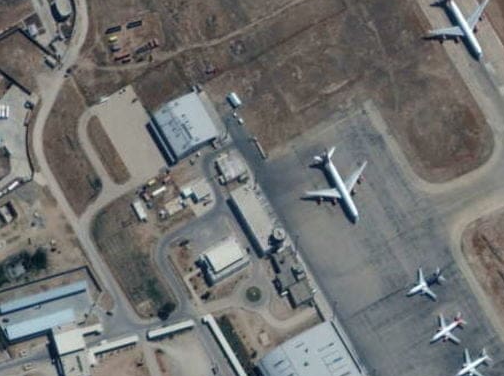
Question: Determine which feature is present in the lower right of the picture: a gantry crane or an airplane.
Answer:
airplane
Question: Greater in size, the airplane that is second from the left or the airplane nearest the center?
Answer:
the airplane nearest the center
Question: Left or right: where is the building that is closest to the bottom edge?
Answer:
left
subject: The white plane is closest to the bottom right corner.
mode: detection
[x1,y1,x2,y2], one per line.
[455,350,491,376]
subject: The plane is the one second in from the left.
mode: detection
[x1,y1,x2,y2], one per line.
[406,267,443,299]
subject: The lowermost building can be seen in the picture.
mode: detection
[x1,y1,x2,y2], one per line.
[62,350,94,376]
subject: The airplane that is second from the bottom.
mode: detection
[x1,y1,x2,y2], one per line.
[431,313,467,343]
